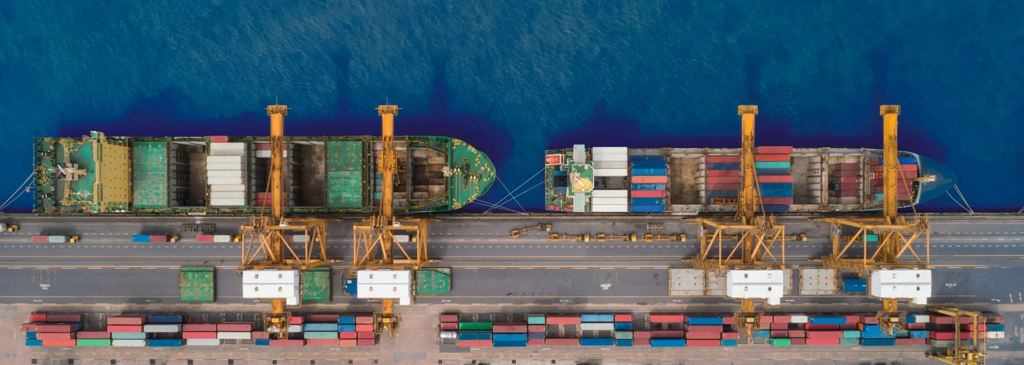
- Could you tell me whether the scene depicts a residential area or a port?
port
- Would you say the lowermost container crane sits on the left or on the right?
right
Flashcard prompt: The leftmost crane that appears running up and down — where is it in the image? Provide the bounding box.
[234,95,351,342]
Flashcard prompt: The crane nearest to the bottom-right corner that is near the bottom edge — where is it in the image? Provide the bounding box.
[928,307,984,365]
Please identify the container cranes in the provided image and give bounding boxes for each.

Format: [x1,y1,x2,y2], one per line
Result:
[682,95,787,342]
[346,95,449,342]
[928,307,984,365]
[809,95,933,342]
[234,95,351,342]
